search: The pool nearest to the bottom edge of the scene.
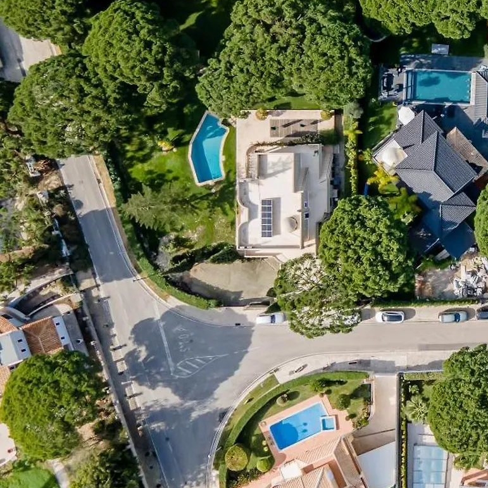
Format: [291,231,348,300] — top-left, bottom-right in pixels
[413,445,448,488]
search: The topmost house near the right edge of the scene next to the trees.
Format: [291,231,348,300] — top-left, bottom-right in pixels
[374,56,488,259]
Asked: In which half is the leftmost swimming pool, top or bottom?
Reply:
top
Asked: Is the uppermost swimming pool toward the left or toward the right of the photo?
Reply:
right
